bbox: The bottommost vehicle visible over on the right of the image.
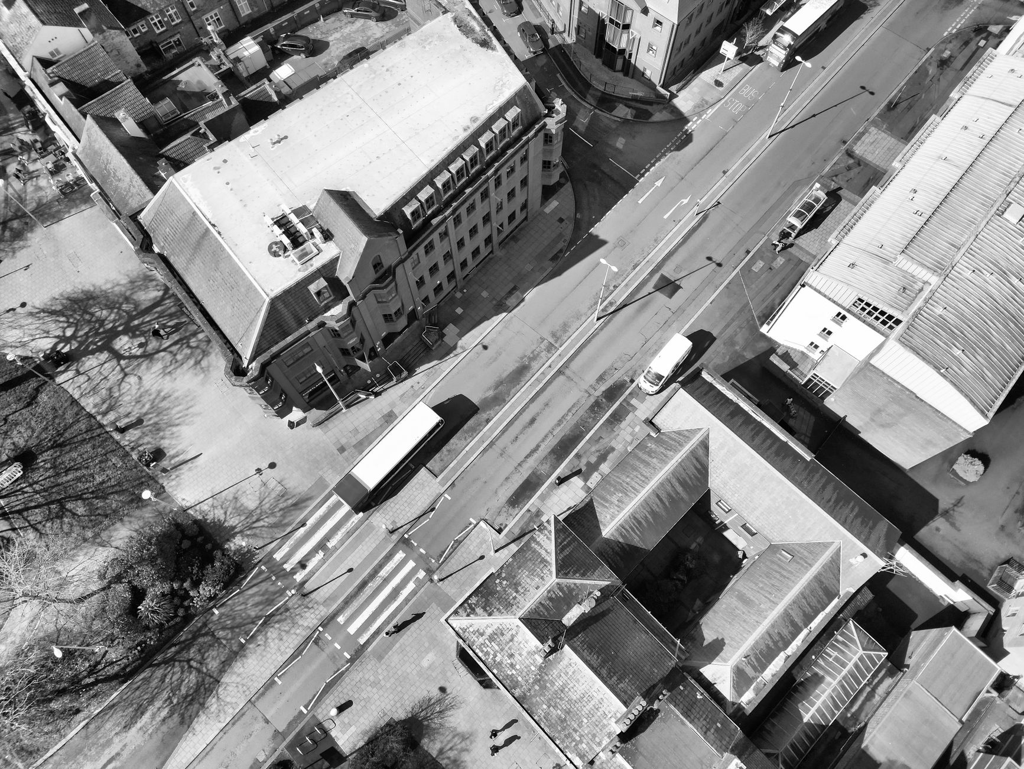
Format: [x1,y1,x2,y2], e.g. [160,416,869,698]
[640,328,693,391]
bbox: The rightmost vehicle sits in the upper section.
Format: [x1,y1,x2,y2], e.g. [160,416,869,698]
[765,0,840,70]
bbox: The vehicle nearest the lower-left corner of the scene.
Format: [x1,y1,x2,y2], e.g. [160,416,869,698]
[332,403,444,517]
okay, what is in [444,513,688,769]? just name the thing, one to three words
house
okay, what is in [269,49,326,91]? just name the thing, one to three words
truck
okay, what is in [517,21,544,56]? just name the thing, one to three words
car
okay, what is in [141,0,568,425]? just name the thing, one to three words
building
